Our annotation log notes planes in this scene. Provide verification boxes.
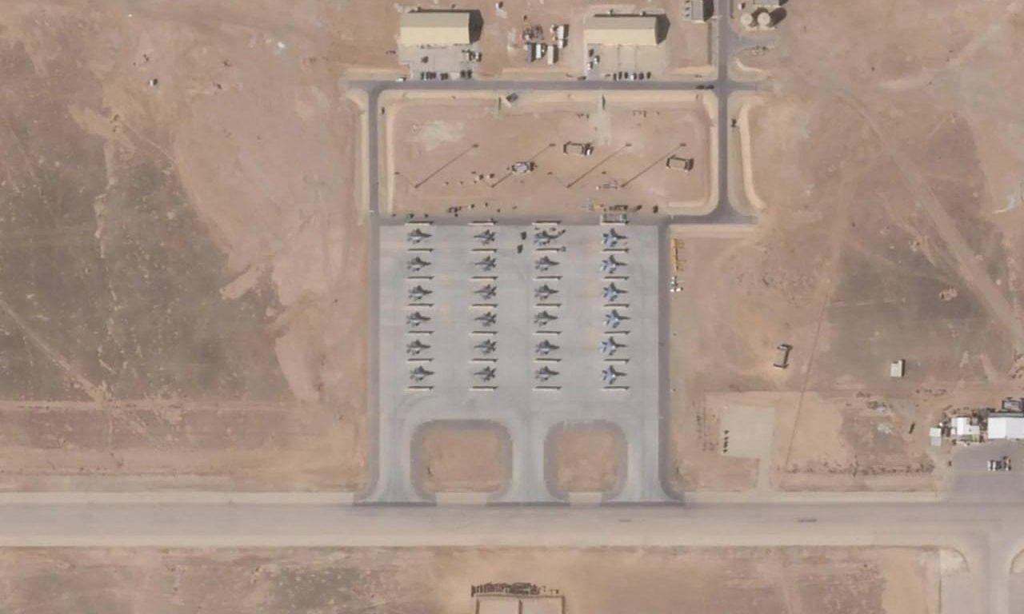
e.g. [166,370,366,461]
[407,229,429,245]
[474,257,494,272]
[534,285,556,300]
[533,311,556,327]
[407,257,429,272]
[475,313,494,327]
[474,367,493,382]
[601,230,624,247]
[408,285,430,301]
[473,230,492,245]
[409,366,431,382]
[535,256,557,272]
[473,340,493,355]
[473,285,493,300]
[535,340,557,356]
[600,339,624,356]
[600,258,625,274]
[533,231,556,246]
[602,285,626,301]
[605,312,629,328]
[534,366,557,382]
[600,368,625,384]
[406,312,429,328]
[406,340,429,356]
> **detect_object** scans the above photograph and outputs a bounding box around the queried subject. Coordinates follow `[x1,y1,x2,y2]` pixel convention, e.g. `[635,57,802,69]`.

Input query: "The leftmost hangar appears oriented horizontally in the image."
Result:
[399,12,472,45]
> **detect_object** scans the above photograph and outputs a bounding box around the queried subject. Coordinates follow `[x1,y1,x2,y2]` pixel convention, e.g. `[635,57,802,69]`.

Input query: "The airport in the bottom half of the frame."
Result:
[0,212,1024,614]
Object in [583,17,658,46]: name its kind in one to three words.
hangar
